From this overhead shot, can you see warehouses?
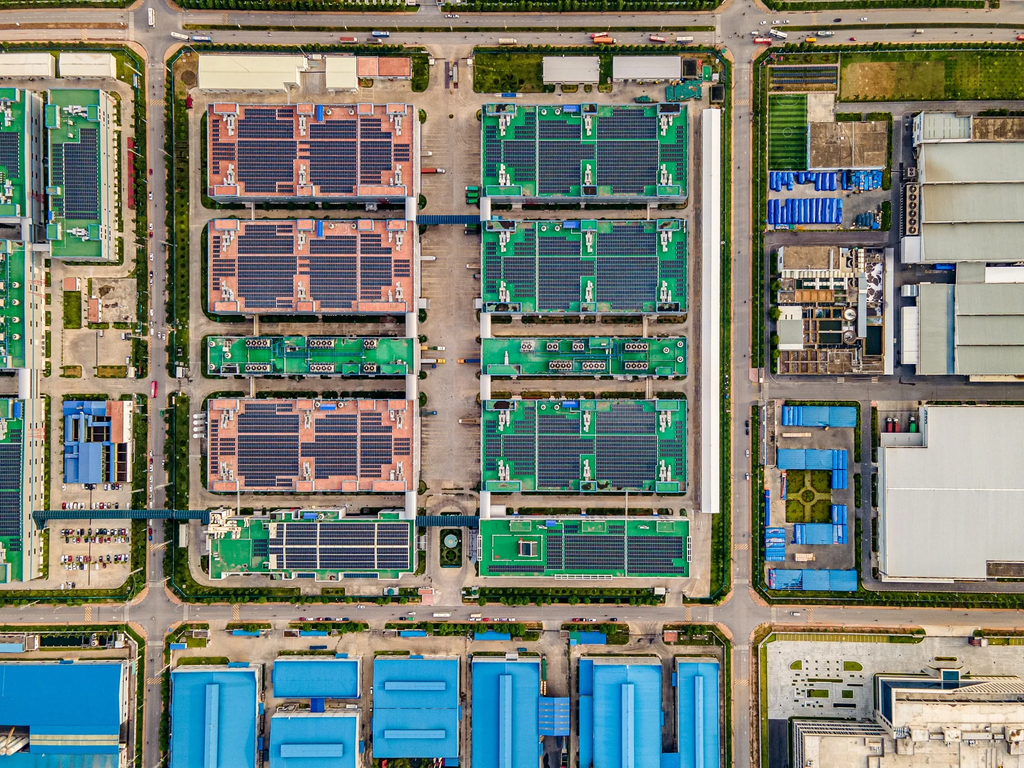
Yes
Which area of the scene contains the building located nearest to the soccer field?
top right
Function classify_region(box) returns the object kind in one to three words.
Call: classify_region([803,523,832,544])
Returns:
tent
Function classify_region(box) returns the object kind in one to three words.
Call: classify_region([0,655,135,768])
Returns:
warehouse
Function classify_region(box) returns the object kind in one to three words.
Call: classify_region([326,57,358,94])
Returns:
building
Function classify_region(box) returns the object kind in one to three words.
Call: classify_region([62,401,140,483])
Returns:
house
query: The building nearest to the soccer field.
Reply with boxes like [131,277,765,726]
[806,121,889,170]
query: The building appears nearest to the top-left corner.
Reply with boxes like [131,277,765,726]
[0,54,58,82]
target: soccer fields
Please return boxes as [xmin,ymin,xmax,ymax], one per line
[767,94,808,170]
